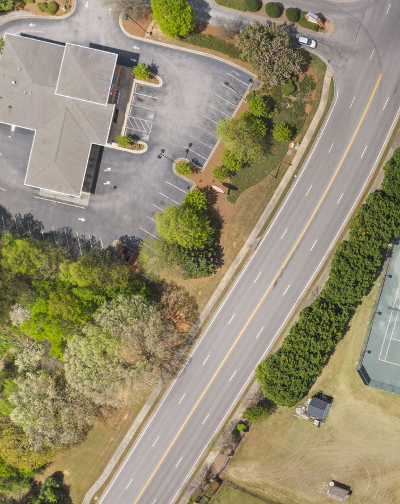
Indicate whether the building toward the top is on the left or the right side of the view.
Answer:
left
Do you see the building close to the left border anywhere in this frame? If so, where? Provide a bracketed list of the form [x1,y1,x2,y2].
[0,33,129,197]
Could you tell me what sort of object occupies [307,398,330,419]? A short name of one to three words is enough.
shed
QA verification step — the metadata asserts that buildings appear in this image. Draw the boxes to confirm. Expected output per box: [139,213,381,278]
[327,486,349,501]
[0,33,129,197]
[307,398,330,419]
